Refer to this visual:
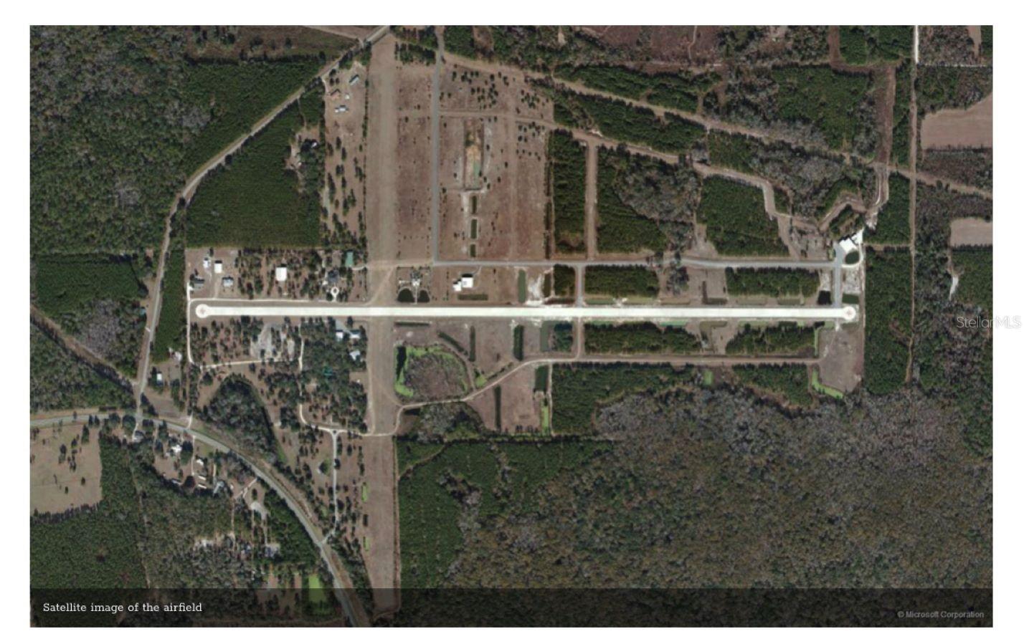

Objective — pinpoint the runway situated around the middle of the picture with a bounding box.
[195,304,856,320]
